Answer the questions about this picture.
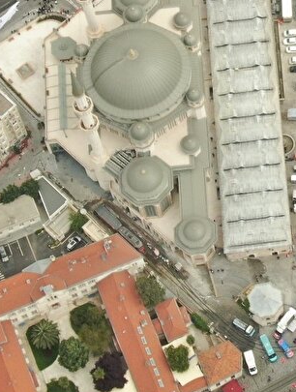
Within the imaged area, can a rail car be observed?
Yes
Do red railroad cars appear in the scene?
No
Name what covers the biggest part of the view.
buildings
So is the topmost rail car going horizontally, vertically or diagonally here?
diagonally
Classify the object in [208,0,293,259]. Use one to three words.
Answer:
building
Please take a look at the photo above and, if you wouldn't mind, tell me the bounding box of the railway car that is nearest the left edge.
[96,205,122,231]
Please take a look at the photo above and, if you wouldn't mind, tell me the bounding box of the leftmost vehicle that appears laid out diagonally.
[66,236,82,252]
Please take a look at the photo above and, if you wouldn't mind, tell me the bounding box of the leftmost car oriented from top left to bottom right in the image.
[235,318,254,335]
